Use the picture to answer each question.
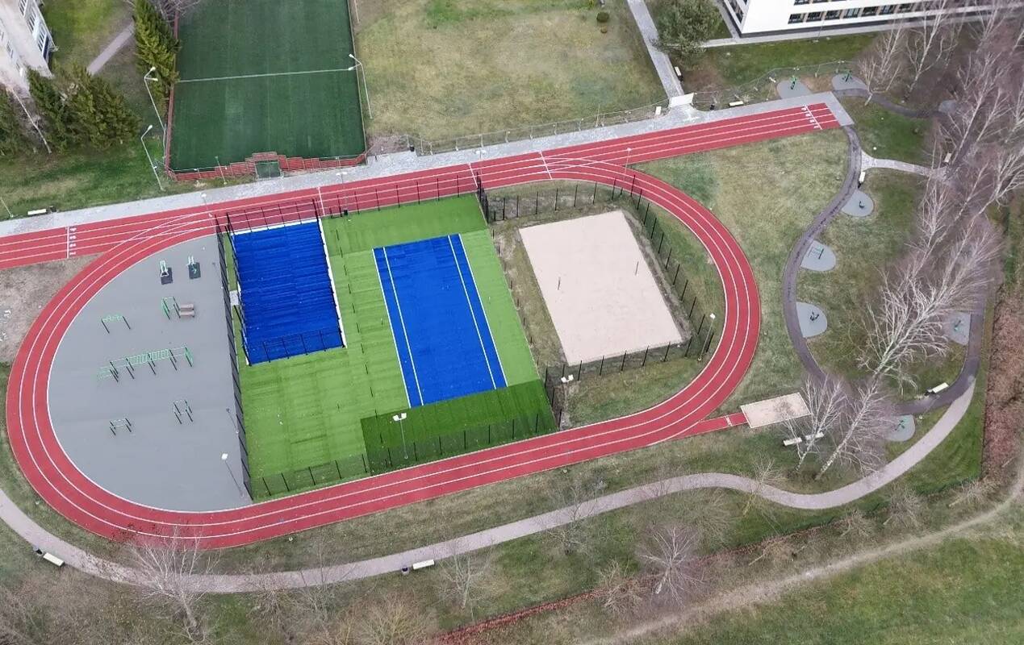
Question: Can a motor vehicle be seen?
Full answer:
No, no motor vehicle can be seen from above.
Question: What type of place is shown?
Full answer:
This looks like a sports ground.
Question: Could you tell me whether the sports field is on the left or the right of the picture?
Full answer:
You can find the sports field on the left side of the picture.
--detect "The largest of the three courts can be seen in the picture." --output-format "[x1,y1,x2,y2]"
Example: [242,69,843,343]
[220,192,557,502]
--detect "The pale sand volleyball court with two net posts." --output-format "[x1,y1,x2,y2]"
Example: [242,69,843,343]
[518,210,683,366]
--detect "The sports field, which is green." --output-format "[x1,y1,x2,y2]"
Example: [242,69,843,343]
[167,0,365,173]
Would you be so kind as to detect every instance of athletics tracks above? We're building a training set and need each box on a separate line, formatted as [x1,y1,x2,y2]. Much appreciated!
[0,103,842,552]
